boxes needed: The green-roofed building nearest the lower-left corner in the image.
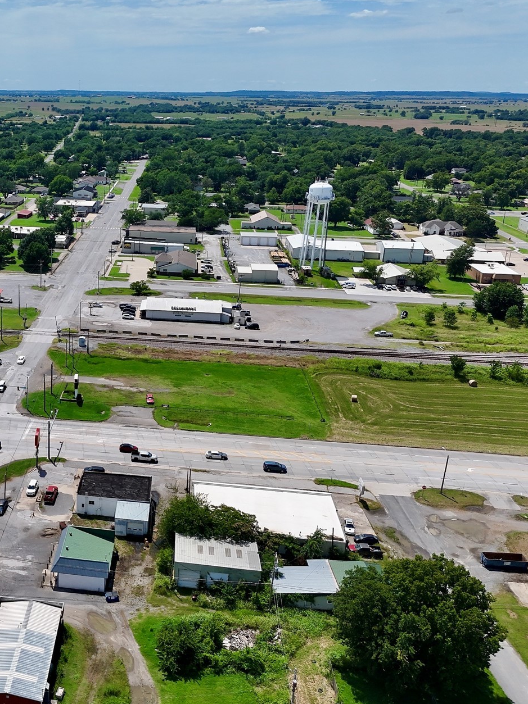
[40,523,116,591]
